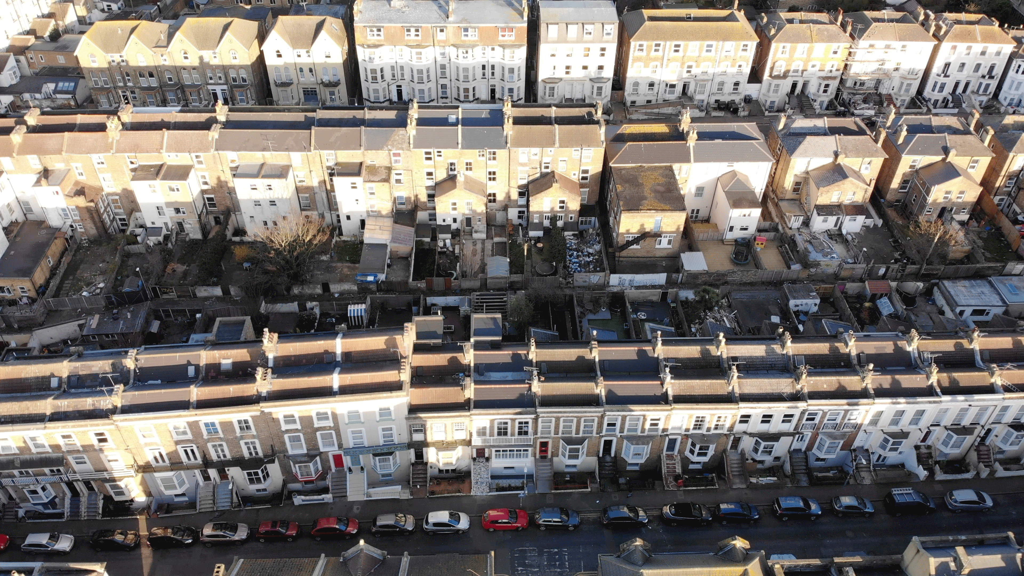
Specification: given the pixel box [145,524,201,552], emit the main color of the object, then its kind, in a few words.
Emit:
black car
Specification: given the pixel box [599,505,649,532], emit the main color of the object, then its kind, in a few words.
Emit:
black car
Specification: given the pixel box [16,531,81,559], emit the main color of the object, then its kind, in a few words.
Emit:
gray car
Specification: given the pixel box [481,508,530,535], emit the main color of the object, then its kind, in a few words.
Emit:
red car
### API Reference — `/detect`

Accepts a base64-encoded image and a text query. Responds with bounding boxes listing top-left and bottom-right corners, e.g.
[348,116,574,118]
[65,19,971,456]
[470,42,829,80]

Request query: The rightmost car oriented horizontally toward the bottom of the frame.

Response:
[941,489,993,514]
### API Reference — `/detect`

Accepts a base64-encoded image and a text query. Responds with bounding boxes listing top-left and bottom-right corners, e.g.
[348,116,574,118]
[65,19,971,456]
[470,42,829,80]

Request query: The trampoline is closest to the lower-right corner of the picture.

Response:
[898,280,929,308]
